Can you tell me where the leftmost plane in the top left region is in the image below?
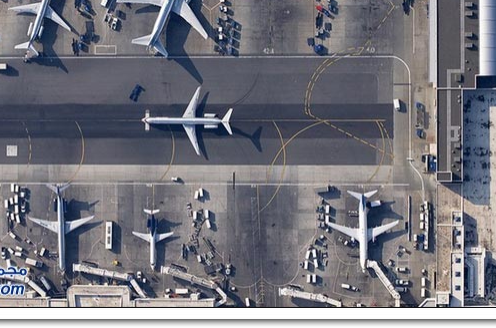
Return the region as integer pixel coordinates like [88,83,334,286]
[7,0,70,55]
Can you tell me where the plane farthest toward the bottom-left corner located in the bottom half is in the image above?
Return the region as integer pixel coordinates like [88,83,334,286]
[27,183,93,270]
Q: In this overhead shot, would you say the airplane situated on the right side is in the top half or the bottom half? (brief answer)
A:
bottom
